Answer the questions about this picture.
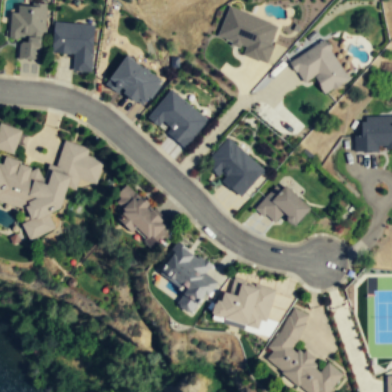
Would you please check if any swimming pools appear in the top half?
Yes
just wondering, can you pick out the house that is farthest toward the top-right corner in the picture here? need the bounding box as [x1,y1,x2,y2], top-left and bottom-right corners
[292,40,354,96]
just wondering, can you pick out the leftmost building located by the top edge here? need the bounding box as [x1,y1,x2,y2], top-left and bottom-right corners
[11,3,50,61]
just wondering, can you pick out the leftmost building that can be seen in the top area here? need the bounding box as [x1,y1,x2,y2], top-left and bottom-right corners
[0,123,23,155]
